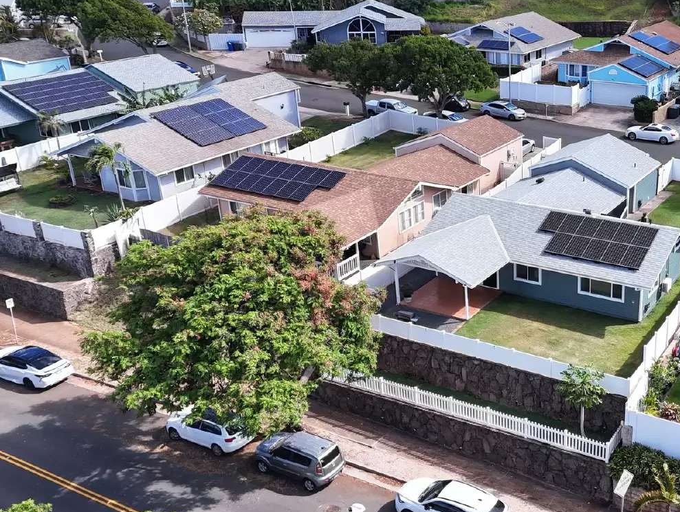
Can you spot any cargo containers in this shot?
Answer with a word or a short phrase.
No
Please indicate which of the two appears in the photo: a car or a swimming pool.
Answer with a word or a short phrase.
car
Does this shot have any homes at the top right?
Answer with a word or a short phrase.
Yes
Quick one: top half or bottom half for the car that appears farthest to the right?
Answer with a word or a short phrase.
top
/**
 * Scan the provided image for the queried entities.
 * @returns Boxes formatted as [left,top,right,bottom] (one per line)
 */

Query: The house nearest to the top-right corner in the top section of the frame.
[553,26,680,105]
